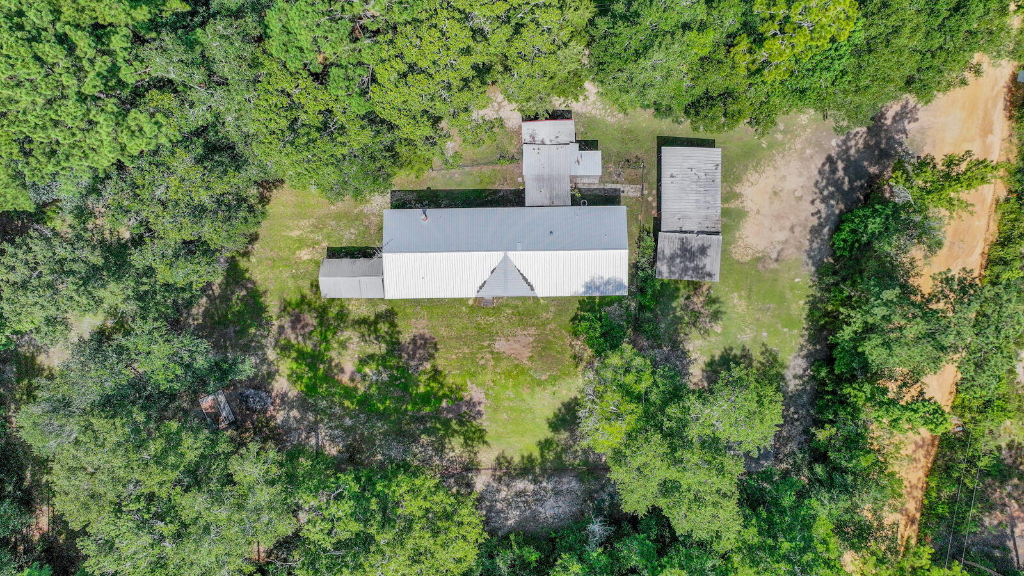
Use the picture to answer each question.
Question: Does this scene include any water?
No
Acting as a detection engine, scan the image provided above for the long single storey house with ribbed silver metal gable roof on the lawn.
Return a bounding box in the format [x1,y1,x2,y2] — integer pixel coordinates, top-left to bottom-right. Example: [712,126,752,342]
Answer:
[381,205,630,300]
